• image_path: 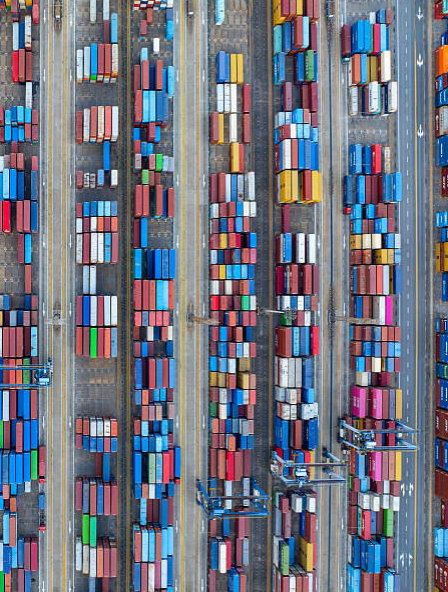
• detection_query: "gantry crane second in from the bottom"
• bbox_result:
[271,448,349,487]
